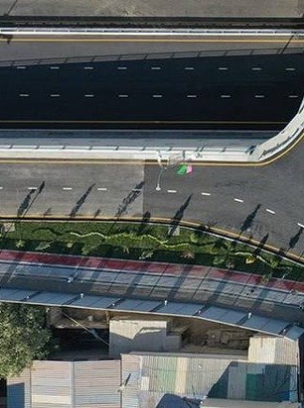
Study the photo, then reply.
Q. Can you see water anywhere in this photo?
No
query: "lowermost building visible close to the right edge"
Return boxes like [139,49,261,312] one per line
[229,353,304,405]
